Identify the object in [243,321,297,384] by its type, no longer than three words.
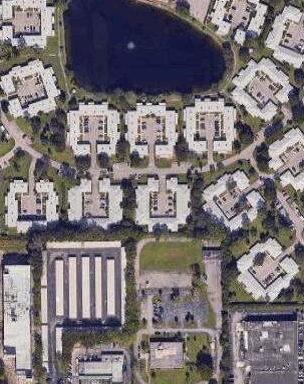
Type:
building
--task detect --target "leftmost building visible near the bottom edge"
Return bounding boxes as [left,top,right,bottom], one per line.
[2,265,32,377]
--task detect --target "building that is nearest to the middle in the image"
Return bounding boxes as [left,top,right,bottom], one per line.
[135,173,189,233]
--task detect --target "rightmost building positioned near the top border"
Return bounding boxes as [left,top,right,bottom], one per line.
[265,6,304,67]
